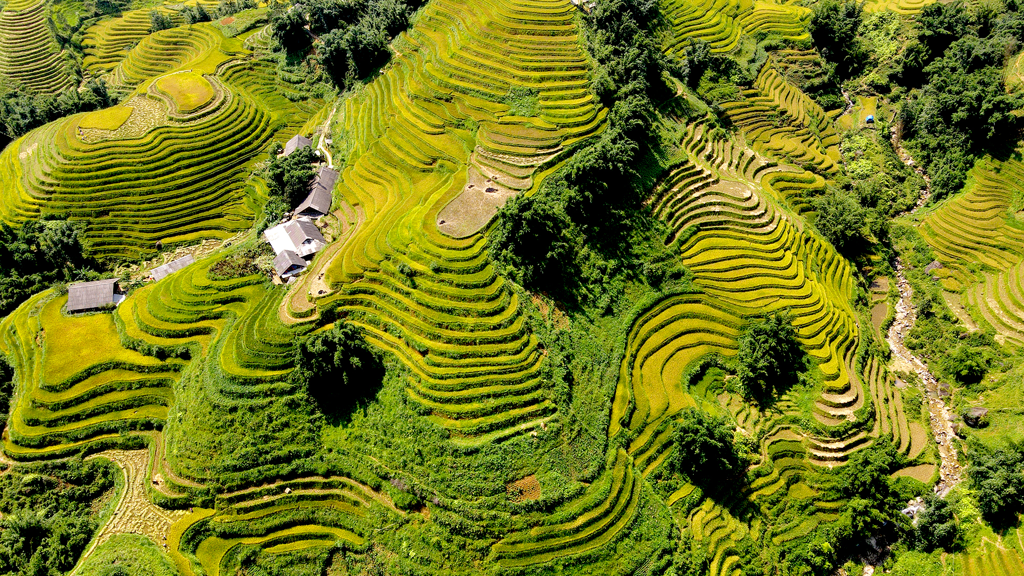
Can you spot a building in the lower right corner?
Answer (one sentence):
No, there's no building to be seen in the lower right corner.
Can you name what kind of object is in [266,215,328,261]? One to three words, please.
house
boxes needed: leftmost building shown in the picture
[67,278,125,315]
